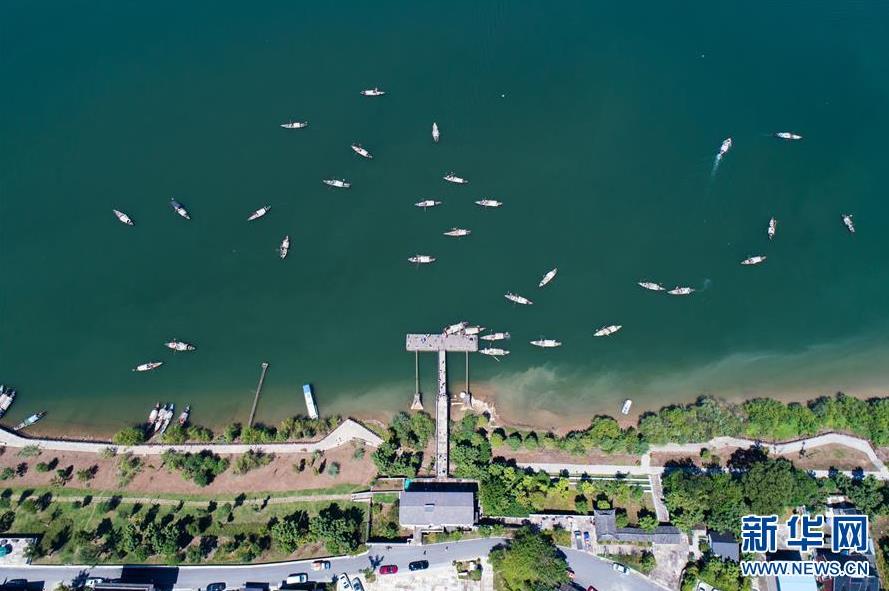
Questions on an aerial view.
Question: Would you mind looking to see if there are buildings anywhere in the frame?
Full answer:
Yes, a building appears in the view.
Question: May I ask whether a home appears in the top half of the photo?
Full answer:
No, I can find no home in the top half of the photo.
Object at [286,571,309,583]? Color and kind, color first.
white vehicle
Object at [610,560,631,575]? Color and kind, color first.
white car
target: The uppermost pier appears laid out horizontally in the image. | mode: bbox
[406,334,477,351]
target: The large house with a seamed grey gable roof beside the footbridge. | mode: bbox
[398,490,474,528]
